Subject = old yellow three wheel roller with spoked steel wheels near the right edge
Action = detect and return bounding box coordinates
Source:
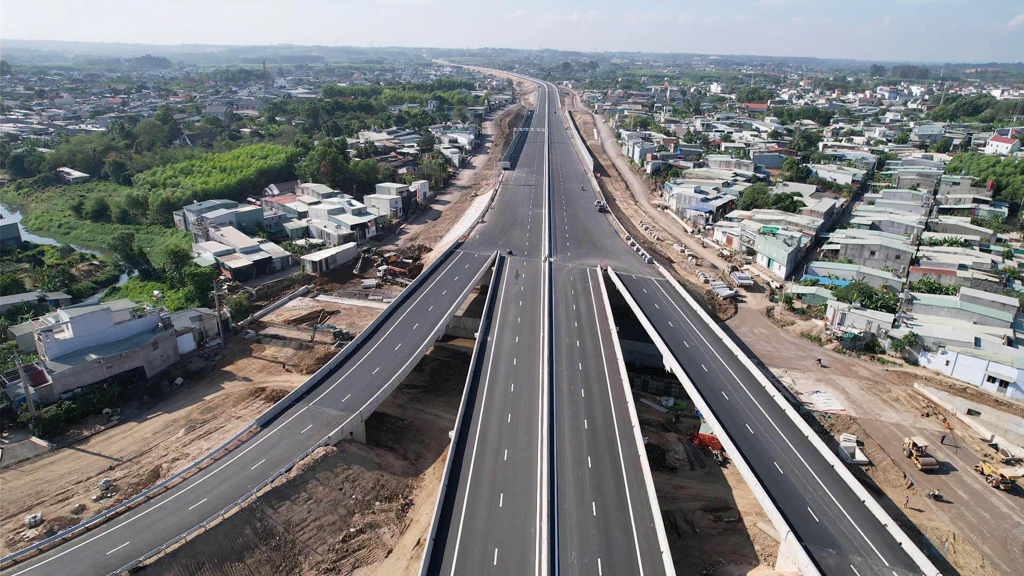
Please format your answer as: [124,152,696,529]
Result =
[978,461,1024,491]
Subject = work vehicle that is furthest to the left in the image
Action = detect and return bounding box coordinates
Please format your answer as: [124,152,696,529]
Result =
[309,315,352,342]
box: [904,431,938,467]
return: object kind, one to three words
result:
work vehicle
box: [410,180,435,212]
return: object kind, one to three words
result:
house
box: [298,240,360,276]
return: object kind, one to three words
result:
house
